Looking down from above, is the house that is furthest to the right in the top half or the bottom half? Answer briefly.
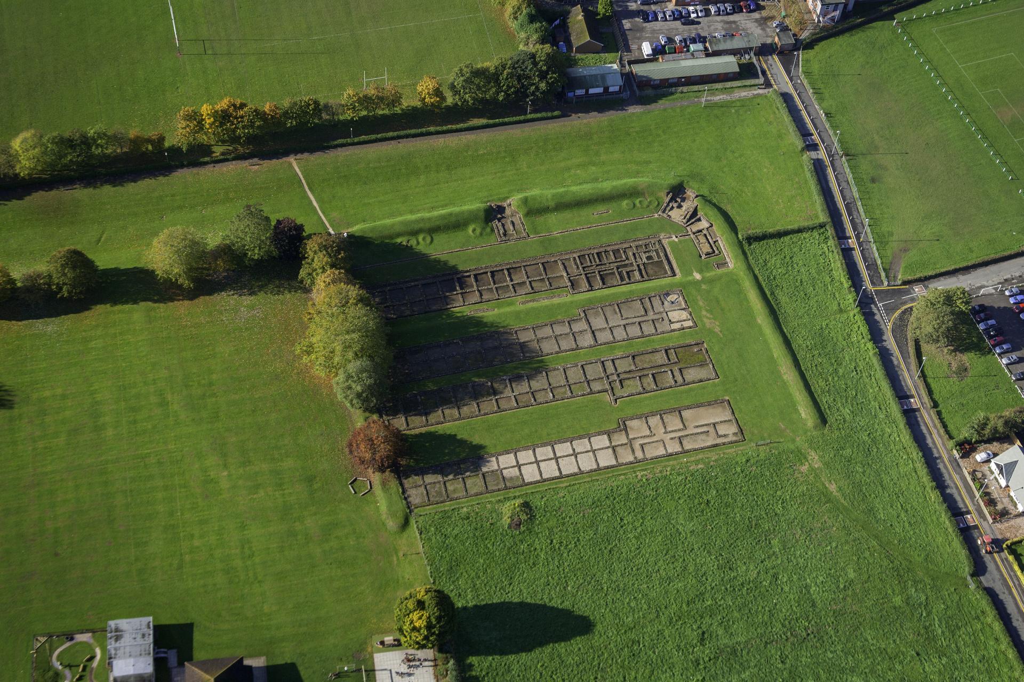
bottom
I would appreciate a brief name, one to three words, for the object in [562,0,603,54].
house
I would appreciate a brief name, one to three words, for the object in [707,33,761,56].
shed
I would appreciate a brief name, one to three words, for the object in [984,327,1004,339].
vehicle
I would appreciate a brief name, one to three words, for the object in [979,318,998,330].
vehicle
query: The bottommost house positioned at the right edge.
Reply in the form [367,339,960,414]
[991,445,1024,506]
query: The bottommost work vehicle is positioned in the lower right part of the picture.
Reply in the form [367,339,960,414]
[978,534,997,561]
